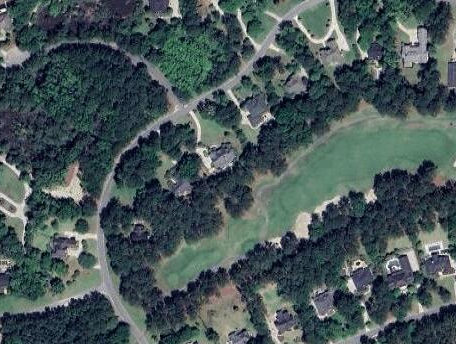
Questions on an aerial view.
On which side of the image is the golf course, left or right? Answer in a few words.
right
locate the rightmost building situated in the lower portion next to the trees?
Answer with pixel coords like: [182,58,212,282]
[426,255,453,281]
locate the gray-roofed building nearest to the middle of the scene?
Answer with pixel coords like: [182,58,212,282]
[206,144,237,172]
